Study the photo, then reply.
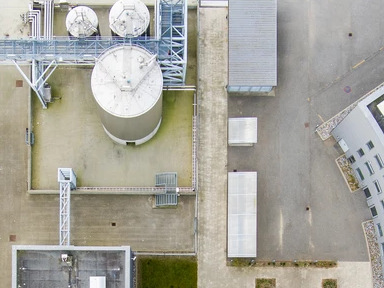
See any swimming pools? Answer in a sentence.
No, no swimming pool can be seen from above.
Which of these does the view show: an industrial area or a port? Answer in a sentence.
This looks like an industrial area.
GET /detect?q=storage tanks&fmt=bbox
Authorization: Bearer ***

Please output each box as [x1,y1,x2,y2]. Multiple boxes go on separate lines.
[66,6,104,44]
[109,0,151,44]
[91,42,164,147]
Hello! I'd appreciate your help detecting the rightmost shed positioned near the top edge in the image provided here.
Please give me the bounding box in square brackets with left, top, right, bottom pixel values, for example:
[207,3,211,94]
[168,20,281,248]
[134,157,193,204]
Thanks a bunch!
[226,0,278,98]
